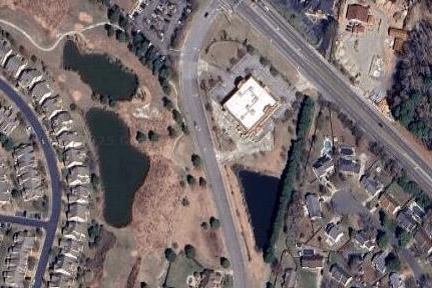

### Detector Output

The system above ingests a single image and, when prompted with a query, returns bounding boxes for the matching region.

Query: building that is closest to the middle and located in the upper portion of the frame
[224,75,276,129]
